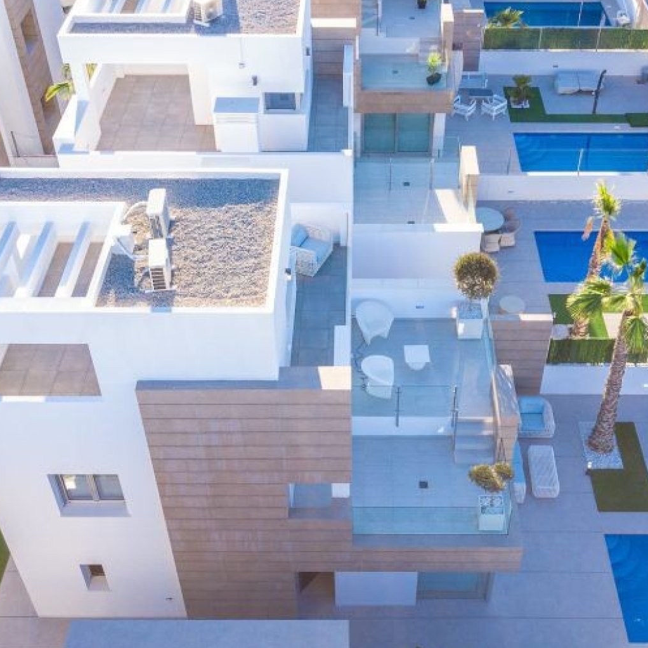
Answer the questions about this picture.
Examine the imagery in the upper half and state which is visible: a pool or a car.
pool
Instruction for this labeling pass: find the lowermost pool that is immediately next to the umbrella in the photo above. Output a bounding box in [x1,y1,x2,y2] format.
[510,131,648,170]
